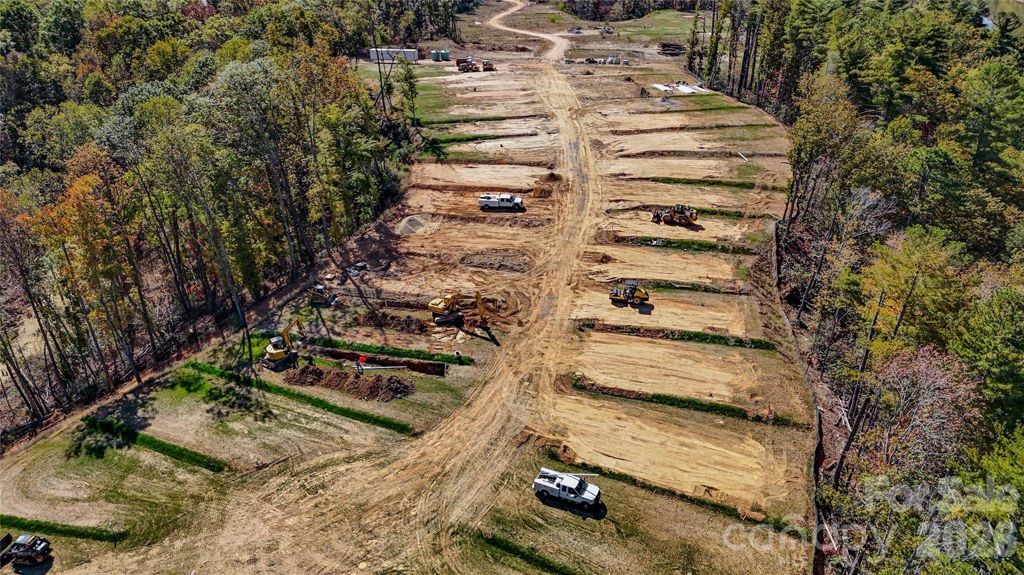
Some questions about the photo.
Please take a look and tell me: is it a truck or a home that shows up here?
truck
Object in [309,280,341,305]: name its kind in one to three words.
work vehicle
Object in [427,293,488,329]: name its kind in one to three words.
work vehicle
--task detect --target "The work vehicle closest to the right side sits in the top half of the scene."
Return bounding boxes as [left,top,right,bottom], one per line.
[648,195,695,222]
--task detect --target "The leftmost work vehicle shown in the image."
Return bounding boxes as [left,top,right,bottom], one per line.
[1,526,54,570]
